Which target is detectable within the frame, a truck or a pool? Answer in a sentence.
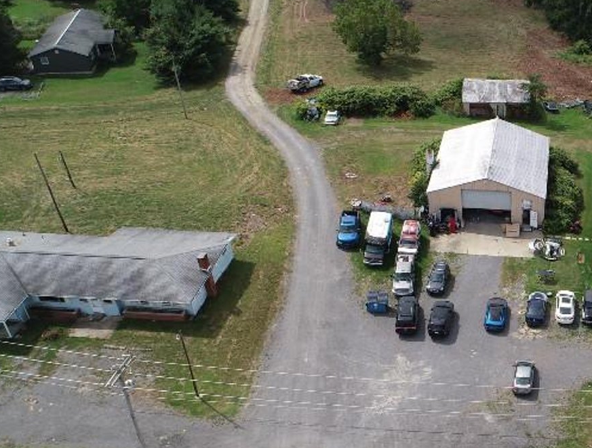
Of the two, only a truck appears.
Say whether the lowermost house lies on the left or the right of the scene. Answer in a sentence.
The lowermost house appears in the left half of the scene.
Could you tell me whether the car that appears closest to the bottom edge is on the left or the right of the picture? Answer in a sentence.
The car that appears closest to the bottom edge sits on the right side.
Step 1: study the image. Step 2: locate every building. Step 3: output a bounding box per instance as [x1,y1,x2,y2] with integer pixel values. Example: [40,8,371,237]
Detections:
[462,79,532,118]
[0,229,243,351]
[24,6,132,74]
[428,117,552,230]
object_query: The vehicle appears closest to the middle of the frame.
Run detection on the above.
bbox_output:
[335,214,361,248]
